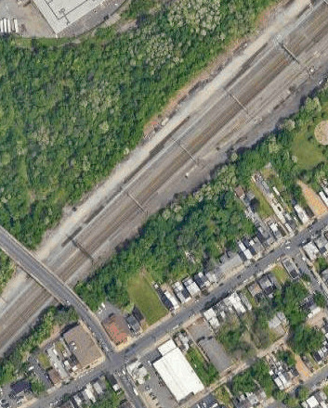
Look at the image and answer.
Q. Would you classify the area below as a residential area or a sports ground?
residential area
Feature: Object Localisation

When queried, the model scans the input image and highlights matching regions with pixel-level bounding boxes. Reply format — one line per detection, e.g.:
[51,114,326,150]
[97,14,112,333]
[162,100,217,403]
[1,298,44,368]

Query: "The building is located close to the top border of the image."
[34,0,109,33]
